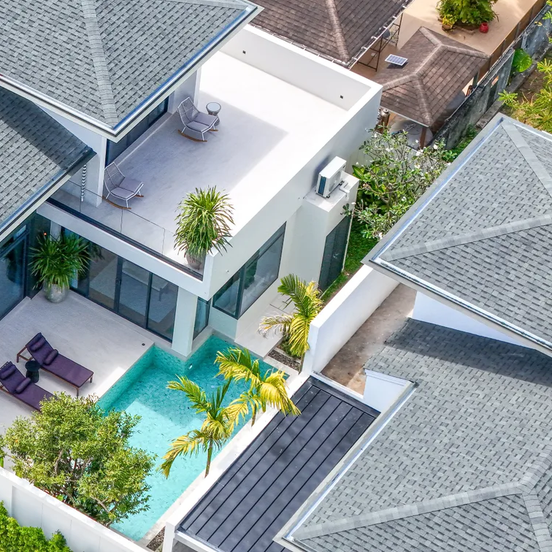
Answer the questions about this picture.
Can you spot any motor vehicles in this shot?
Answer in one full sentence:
No, this view has no motor vehicle in it.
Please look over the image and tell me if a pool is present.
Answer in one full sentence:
Yes, a pool can be made out from above.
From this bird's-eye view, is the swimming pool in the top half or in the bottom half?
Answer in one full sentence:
The swimming pool is in the bottom half of the image.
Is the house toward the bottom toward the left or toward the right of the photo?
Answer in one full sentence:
The house toward the bottom sits on the right side.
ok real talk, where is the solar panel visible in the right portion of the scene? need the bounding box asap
[384,51,409,68]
